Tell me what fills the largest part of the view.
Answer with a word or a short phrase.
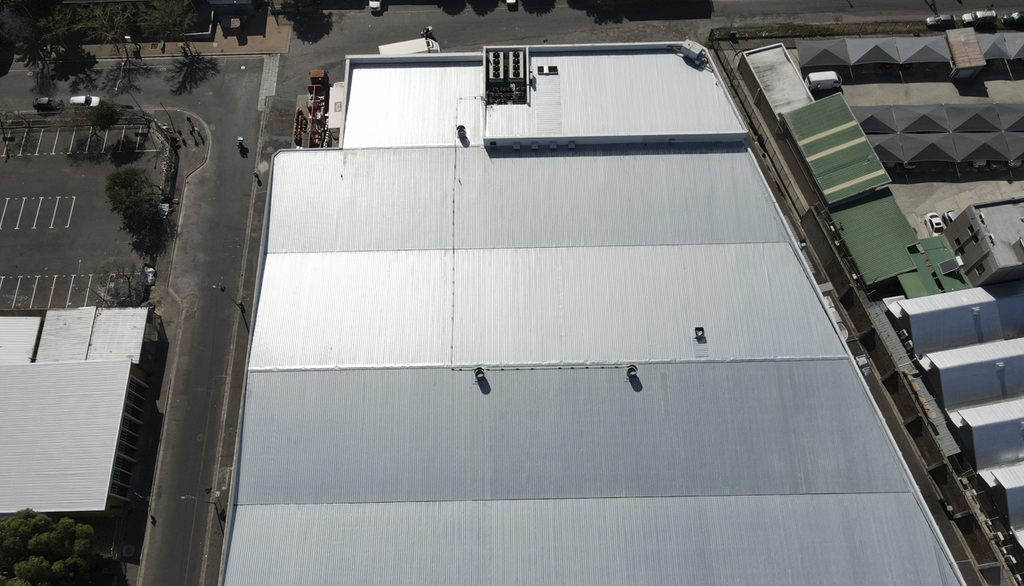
buildings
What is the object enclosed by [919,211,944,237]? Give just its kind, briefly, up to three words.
car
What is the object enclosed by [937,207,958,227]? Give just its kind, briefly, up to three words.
car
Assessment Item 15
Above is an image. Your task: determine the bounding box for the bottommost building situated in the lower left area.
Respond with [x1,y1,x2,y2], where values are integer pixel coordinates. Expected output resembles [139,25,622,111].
[0,358,147,515]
